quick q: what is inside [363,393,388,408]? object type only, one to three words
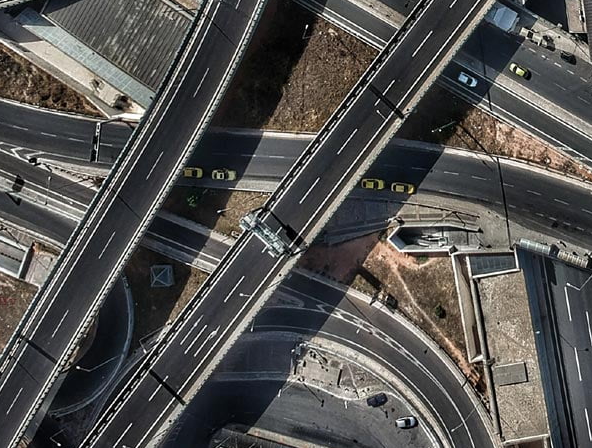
car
